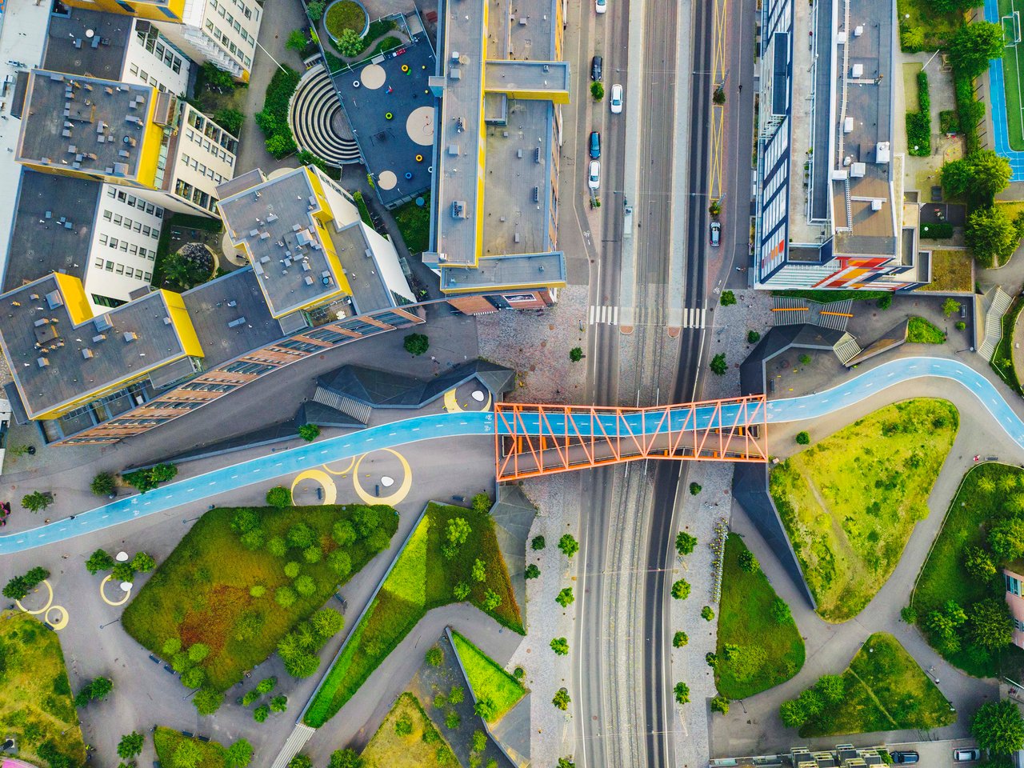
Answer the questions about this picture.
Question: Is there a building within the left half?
Yes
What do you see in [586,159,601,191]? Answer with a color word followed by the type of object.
white car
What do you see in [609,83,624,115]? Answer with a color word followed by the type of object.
white car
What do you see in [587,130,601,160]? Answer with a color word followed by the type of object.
blue car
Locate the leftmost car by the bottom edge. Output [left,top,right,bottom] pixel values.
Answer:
[887,748,922,766]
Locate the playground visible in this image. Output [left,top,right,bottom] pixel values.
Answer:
[333,35,434,209]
